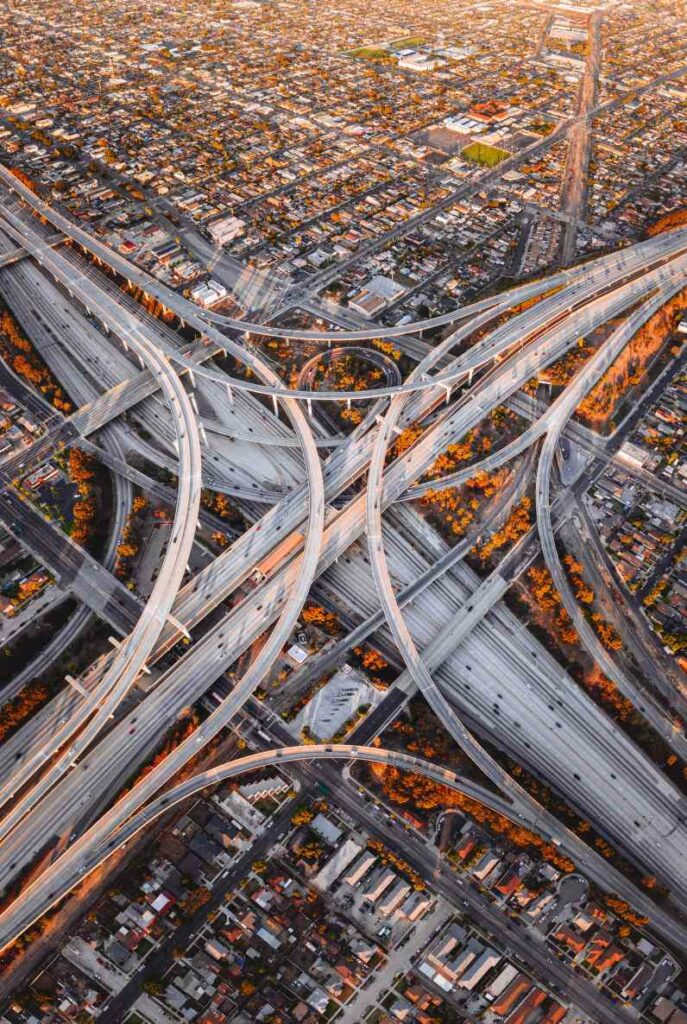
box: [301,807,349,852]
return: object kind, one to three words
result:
building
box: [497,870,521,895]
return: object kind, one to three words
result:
house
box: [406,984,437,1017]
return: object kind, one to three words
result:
house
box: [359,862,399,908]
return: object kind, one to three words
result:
building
